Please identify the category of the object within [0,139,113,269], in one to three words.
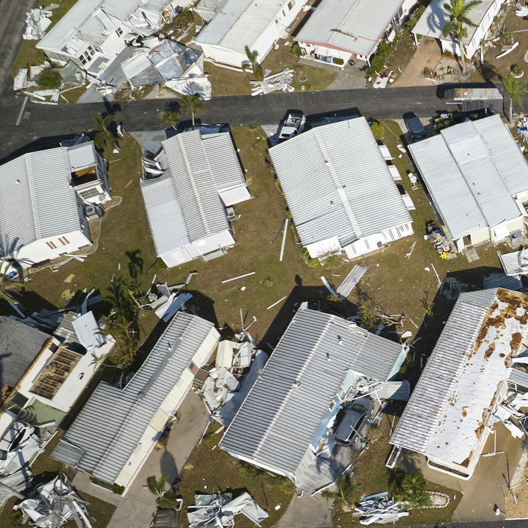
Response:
house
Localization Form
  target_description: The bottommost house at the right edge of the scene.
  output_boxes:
[389,287,528,474]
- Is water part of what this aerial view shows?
No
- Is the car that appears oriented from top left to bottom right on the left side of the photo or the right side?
right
